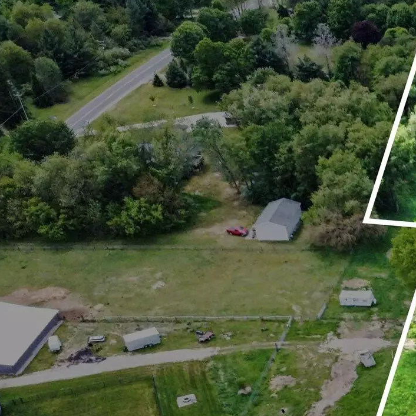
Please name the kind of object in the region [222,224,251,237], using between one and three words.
vehicle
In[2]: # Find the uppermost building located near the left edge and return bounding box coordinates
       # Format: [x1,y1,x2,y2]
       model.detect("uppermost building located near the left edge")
[0,301,72,380]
